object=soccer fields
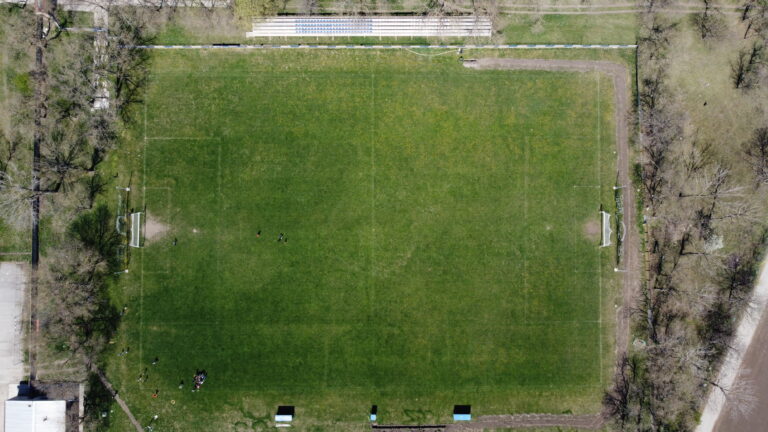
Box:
[140,52,603,391]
